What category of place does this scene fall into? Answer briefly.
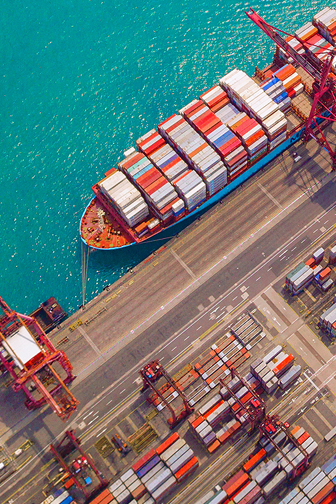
port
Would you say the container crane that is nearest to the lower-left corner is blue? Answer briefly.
No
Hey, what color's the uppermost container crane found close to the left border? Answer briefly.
red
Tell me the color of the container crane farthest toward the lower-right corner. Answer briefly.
red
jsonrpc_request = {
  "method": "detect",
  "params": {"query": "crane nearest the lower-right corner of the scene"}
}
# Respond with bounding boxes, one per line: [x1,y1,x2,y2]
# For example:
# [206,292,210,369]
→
[253,413,312,486]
